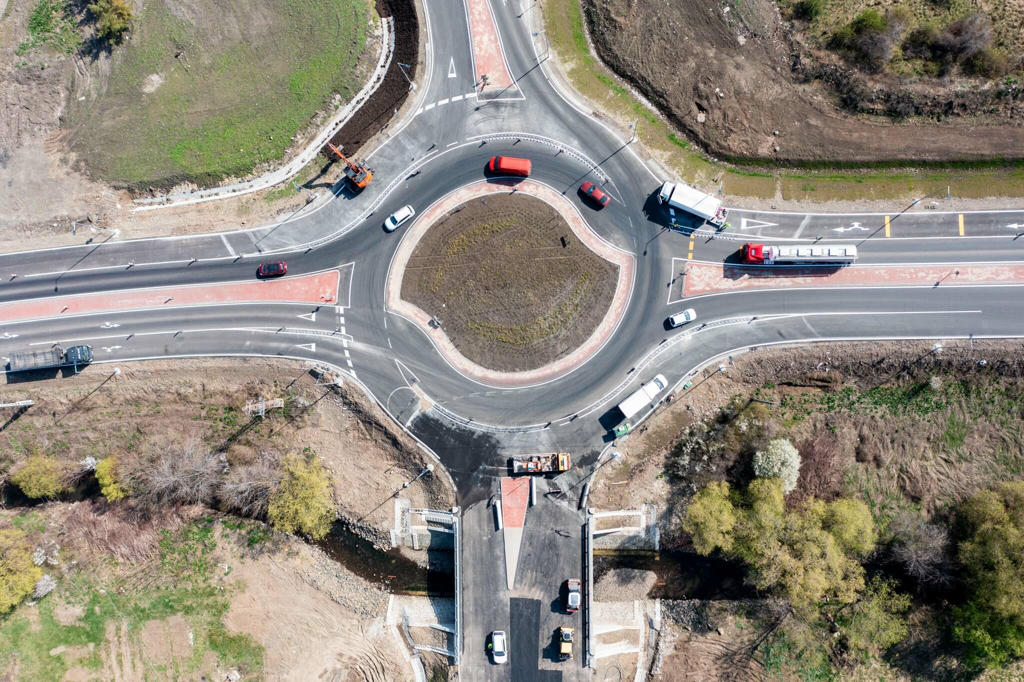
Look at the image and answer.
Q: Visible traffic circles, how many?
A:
one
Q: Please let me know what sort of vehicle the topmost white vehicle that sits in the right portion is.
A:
truck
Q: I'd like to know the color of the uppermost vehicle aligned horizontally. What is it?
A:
red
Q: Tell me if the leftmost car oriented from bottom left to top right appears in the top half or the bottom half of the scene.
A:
top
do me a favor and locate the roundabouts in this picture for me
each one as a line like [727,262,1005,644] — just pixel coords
[25,132,981,433]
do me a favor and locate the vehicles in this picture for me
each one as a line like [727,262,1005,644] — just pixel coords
[652,176,724,224]
[15,342,95,370]
[736,244,861,265]
[668,308,696,328]
[331,144,379,194]
[560,625,574,659]
[617,374,666,418]
[492,630,508,663]
[581,182,610,208]
[490,158,531,178]
[612,424,631,439]
[385,204,416,233]
[258,261,289,277]
[512,451,573,473]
